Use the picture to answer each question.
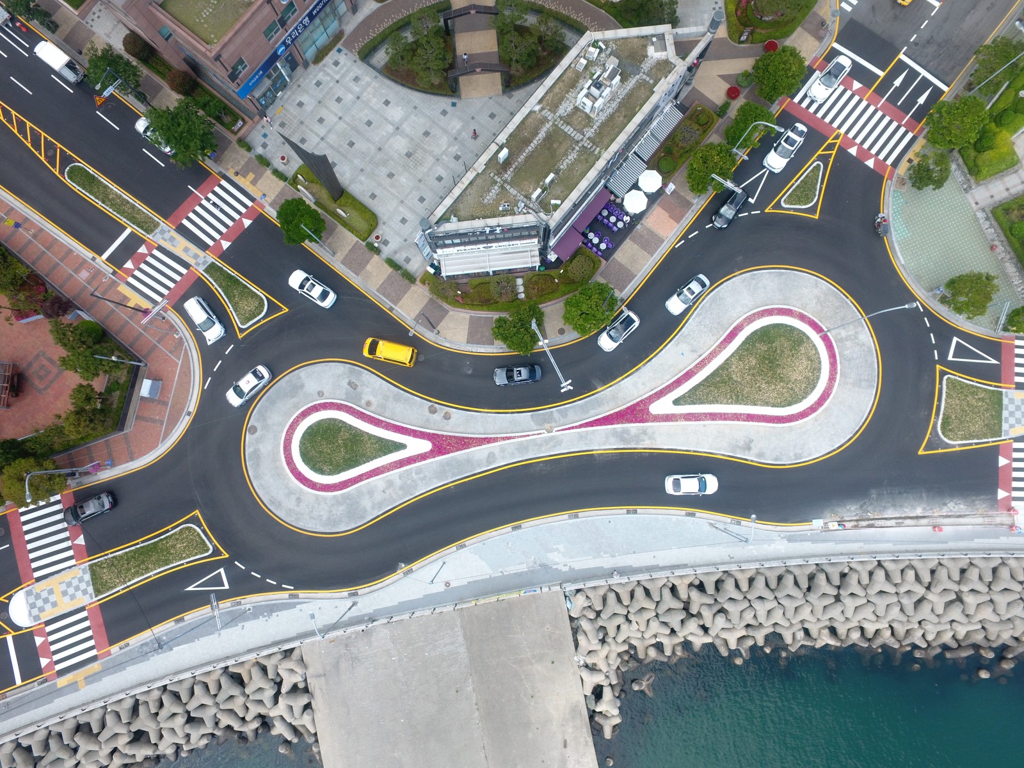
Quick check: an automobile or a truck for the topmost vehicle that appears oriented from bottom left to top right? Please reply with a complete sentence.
From above, the topmost vehicle that appears oriented from bottom left to top right can be identified as an automobile.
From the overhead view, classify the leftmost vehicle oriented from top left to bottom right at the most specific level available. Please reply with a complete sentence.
I'd say the leftmost vehicle oriented from top left to bottom right is a truck.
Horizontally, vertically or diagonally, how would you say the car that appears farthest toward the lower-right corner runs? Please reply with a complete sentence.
Seen from above, the car that appears farthest toward the lower-right corner lies horizontally.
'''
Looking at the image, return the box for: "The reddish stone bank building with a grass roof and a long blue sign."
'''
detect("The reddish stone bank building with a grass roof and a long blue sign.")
[94,0,358,117]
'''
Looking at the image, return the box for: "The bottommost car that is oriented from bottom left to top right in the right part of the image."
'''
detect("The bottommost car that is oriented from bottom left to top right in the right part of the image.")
[596,307,642,353]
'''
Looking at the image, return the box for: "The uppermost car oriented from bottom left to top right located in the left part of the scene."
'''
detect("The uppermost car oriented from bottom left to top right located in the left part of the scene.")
[225,362,275,409]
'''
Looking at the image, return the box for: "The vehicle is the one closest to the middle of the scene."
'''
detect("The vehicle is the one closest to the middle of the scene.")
[491,363,544,388]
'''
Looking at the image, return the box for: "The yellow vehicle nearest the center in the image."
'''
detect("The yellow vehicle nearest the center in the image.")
[361,336,418,368]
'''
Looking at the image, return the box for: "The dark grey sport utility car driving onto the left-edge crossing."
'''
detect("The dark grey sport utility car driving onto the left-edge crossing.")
[62,491,117,526]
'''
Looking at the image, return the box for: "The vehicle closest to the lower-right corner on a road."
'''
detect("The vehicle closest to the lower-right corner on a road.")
[663,472,719,498]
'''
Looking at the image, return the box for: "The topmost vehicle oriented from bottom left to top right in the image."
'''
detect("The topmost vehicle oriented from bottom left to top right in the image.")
[805,53,853,106]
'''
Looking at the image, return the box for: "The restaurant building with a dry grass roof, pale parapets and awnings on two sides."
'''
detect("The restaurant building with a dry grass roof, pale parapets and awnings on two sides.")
[417,9,729,282]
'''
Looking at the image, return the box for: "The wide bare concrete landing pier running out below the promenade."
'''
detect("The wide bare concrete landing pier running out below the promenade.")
[301,592,599,768]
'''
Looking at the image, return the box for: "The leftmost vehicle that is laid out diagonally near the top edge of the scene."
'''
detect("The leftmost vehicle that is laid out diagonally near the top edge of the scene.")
[29,35,87,86]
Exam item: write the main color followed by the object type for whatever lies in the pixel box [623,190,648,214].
white umbrella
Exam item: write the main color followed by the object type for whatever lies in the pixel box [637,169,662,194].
white umbrella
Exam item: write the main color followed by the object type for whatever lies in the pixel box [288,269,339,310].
white car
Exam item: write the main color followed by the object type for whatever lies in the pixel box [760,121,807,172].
white car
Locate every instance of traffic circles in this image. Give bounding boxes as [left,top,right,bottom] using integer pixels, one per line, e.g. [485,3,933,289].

[242,265,882,537]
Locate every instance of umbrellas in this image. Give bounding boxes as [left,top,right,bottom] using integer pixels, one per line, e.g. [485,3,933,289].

[623,190,648,214]
[637,169,662,194]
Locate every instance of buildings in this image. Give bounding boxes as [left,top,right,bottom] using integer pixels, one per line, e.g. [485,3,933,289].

[94,0,358,117]
[417,9,729,282]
